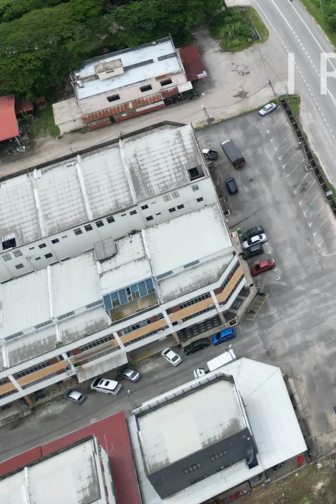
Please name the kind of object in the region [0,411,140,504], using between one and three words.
building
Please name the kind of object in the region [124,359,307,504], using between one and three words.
building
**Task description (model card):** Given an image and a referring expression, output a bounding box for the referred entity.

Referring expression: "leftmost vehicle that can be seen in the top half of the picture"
[200,147,222,163]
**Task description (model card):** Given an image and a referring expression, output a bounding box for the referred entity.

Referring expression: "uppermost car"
[257,102,279,117]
